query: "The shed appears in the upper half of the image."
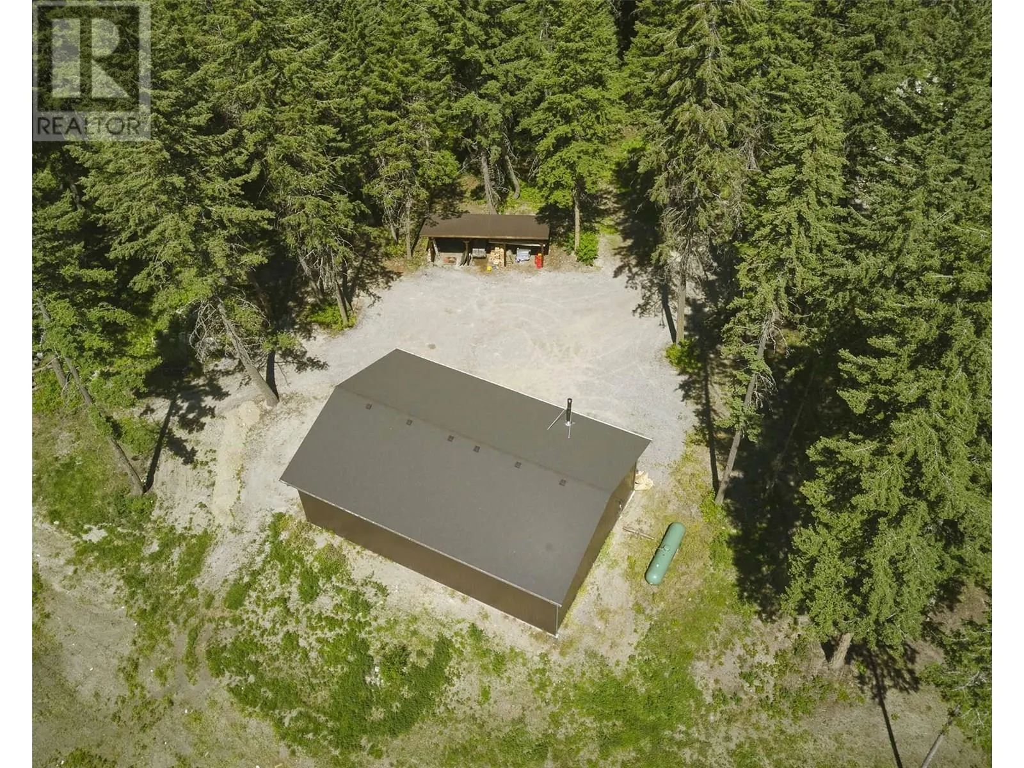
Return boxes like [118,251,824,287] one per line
[418,215,550,270]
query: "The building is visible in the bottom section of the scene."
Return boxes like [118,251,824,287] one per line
[279,349,651,638]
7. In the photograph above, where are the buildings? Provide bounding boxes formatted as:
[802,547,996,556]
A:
[418,215,550,270]
[279,349,651,638]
